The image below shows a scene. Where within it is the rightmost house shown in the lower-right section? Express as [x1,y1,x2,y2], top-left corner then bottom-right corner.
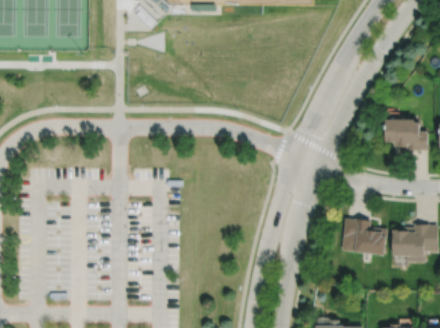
[393,225,439,264]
